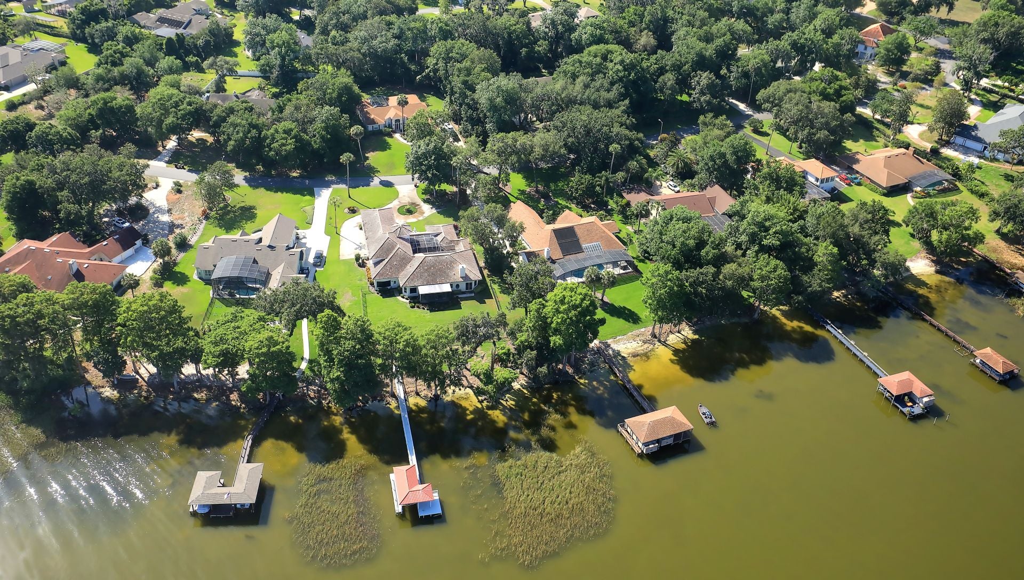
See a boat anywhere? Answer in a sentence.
Yes, there's a boat here.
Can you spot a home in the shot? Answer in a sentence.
Yes, there's a home here.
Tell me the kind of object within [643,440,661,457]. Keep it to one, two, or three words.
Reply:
boat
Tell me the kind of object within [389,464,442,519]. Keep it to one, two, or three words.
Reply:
building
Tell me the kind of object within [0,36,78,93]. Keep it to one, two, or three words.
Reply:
house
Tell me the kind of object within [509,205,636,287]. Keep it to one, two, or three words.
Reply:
house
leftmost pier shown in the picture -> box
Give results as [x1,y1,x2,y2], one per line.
[227,393,285,487]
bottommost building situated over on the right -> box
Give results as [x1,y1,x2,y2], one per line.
[614,405,694,458]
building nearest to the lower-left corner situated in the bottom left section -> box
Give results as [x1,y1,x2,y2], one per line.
[188,462,264,520]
